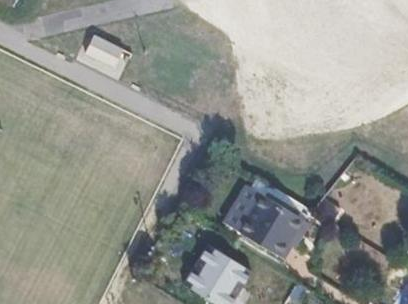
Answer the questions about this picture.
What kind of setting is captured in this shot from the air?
sports ground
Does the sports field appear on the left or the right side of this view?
left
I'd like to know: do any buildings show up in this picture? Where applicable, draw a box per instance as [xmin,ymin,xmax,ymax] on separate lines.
[77,36,132,80]
[186,250,252,304]
[222,180,307,259]
[286,285,307,304]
